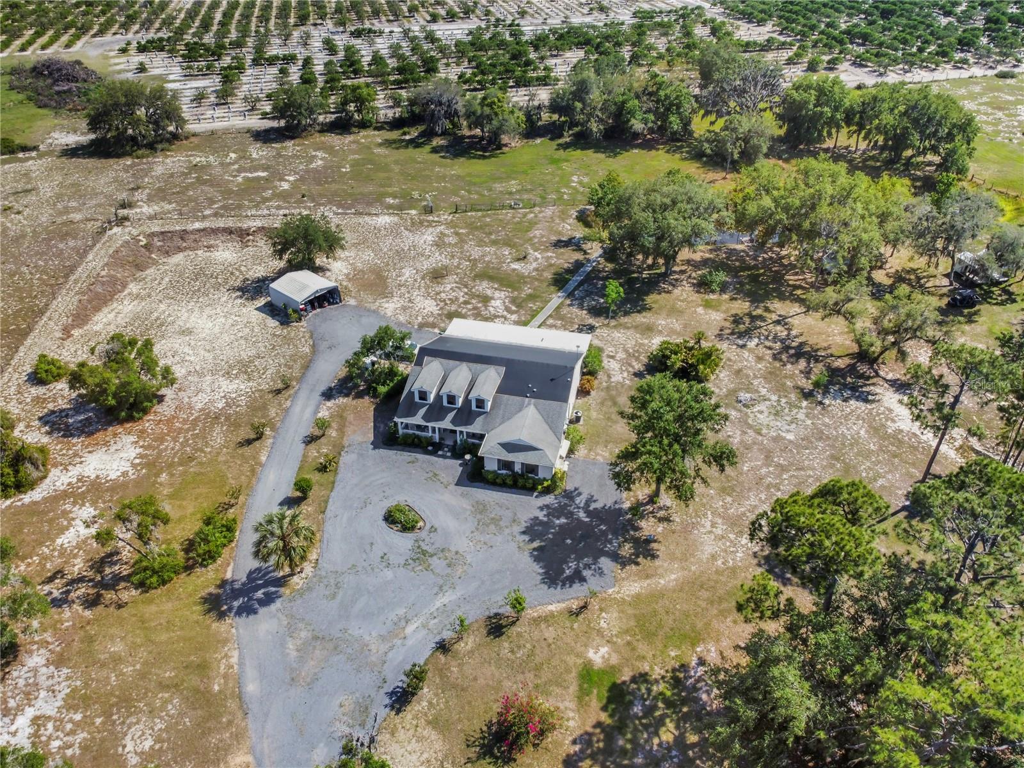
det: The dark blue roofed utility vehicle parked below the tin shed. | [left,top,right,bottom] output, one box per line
[952,288,985,307]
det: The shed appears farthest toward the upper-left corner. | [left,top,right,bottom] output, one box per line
[266,267,343,320]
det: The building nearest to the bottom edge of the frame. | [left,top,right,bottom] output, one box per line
[392,319,592,481]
